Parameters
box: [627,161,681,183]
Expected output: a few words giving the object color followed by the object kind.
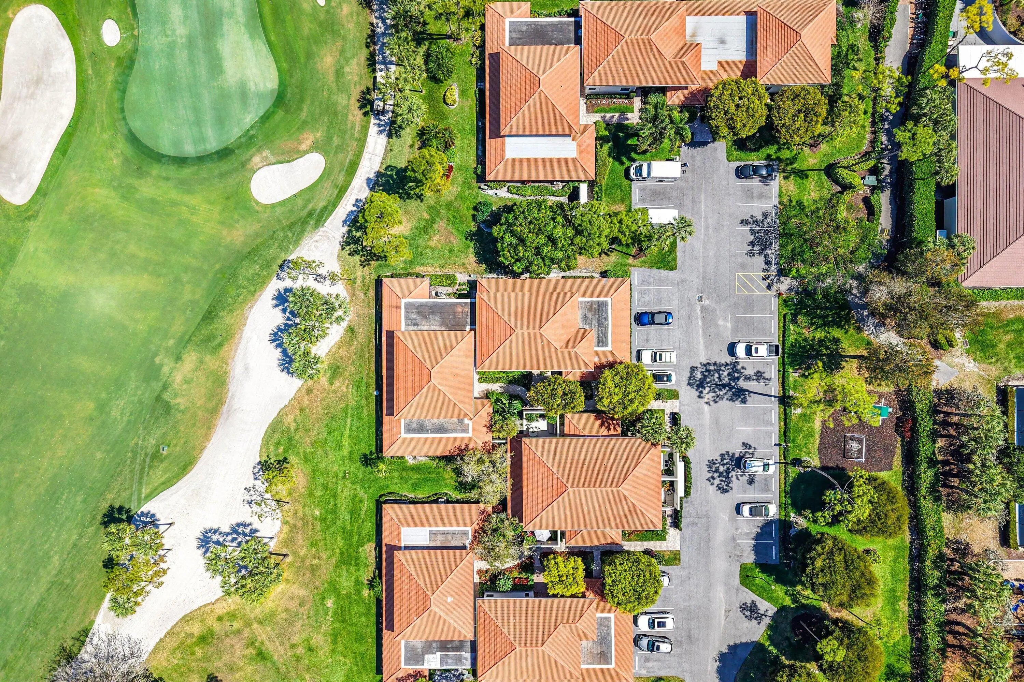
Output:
white truck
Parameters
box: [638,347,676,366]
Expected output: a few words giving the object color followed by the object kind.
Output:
white car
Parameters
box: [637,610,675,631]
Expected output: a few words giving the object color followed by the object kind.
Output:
white car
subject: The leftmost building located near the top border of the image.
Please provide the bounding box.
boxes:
[485,0,595,181]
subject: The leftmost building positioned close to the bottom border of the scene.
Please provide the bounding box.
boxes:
[381,503,492,682]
